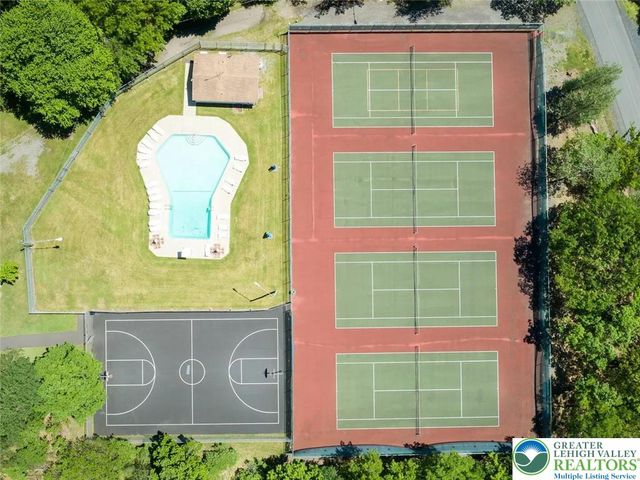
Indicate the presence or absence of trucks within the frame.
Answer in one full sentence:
No, no truck is visible in the scene.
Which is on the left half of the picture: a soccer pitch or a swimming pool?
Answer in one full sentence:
Visible on the left half of the picture is a swimming pool.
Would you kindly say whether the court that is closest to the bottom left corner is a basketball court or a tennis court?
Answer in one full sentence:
The court that is closest to the bottom left corner is a basketball court.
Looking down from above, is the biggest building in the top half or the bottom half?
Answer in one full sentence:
You can find the biggest building in the top half.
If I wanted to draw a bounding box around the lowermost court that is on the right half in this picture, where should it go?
[336,352,499,429]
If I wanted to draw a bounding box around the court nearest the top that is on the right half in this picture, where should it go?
[332,52,494,127]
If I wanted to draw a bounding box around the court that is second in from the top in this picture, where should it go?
[334,152,495,227]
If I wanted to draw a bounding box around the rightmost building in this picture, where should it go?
[191,53,258,104]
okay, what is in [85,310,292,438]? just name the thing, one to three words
basketball court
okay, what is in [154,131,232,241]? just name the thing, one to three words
swimming pool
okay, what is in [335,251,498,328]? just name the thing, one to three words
tennis court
